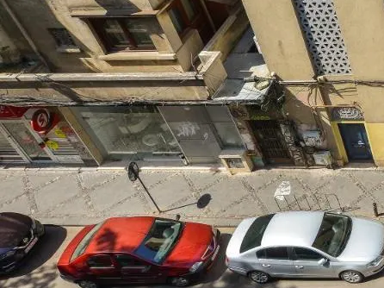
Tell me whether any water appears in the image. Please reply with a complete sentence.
No, the scene doesn't show any water.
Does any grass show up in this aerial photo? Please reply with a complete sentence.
No, there is no grass in the image.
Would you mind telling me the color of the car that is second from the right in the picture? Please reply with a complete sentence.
The car that is second from the right looks red in the image.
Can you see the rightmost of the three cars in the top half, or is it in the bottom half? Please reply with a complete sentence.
The bottom half of the photo is where the rightmost of the three cars is.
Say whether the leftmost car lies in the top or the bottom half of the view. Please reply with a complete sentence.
The leftmost car is in the bottom half of the image.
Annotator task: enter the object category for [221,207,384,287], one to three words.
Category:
car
